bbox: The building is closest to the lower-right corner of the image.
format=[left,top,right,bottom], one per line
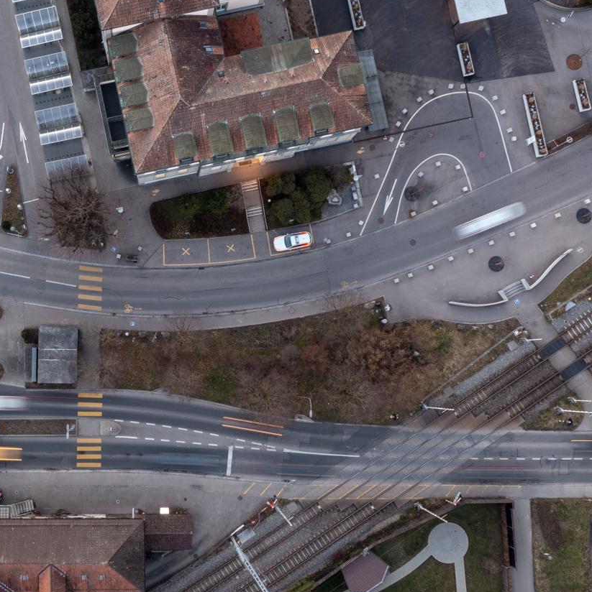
[340,548,391,592]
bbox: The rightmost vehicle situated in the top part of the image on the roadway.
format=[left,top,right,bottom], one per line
[466,207,509,235]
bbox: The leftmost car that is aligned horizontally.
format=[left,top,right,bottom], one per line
[272,231,311,249]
